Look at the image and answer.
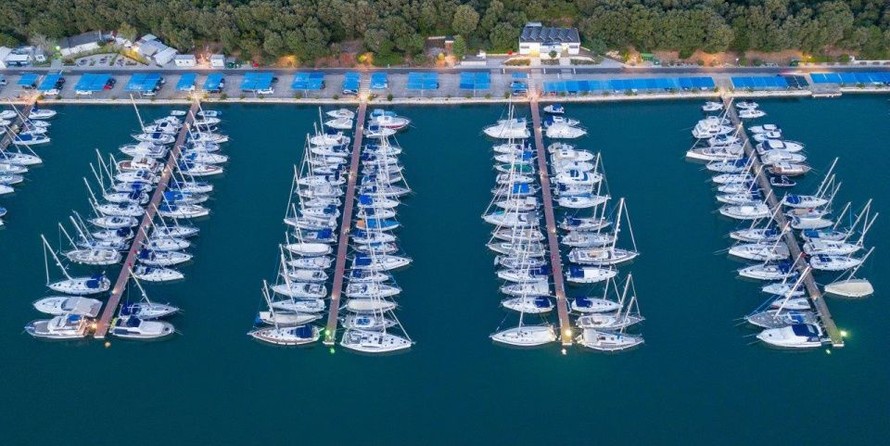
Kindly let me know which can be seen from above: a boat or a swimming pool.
boat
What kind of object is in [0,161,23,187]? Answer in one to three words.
boat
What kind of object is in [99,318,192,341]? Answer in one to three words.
boat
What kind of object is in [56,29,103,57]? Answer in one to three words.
building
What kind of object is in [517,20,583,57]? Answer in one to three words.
building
